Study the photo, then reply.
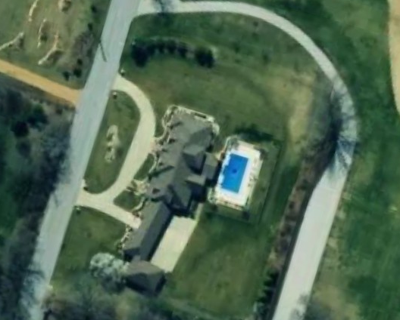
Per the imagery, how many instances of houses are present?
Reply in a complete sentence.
I count just 1 house.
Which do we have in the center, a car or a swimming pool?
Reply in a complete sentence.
You can see a swimming pool in the center.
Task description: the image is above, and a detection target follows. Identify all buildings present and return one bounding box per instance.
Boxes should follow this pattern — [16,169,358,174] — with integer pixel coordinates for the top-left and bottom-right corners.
[124,109,222,294]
